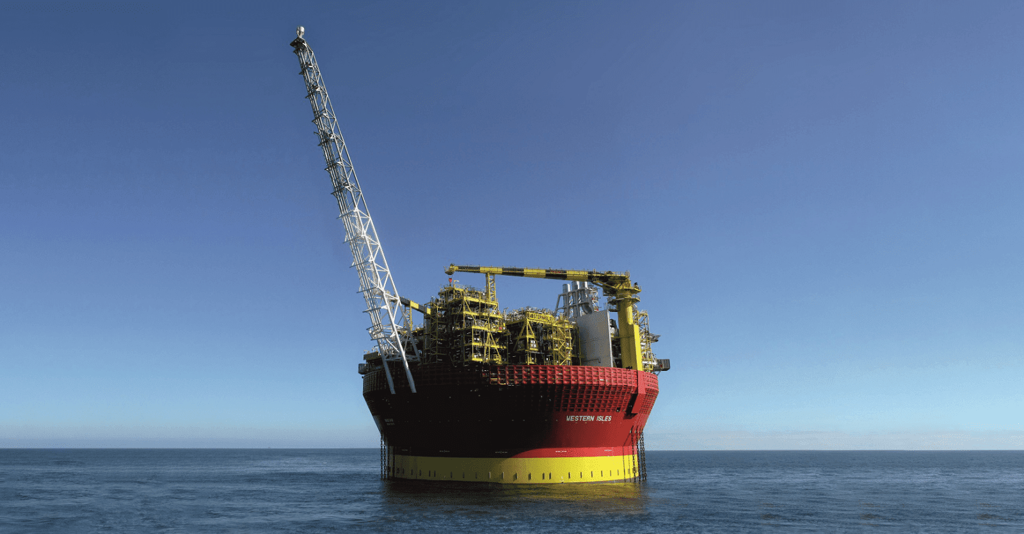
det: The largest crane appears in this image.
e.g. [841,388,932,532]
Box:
[444,261,644,375]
